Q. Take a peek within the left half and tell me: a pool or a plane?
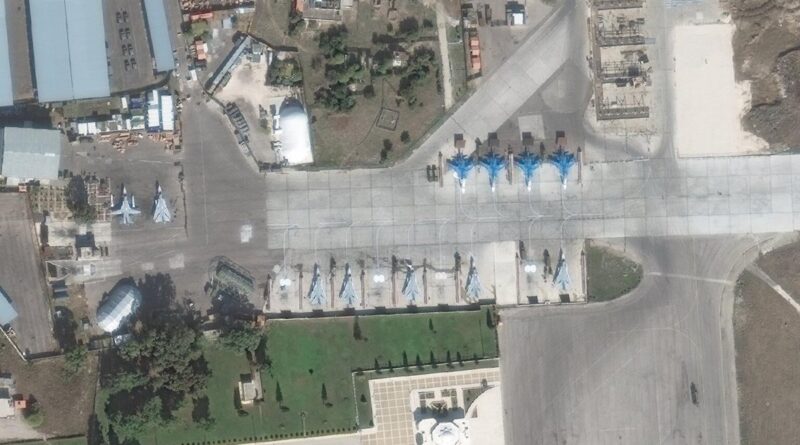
plane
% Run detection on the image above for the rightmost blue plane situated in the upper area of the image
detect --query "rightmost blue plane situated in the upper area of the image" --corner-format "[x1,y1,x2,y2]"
[550,147,576,189]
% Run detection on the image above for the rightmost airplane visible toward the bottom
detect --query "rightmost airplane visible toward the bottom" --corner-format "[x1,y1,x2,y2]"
[556,253,573,290]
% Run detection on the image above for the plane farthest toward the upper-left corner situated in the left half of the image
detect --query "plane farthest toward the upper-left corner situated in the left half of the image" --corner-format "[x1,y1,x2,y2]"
[112,184,140,223]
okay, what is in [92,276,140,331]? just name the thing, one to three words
hangar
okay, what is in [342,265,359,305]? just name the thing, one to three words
airplane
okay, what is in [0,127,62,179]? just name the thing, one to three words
hangar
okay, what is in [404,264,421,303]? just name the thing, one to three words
airplane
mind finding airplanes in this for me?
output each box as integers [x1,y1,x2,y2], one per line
[515,148,541,190]
[550,147,576,189]
[468,262,485,301]
[448,151,474,193]
[155,184,172,223]
[342,265,359,305]
[479,150,505,191]
[556,253,573,290]
[112,184,140,223]
[311,264,329,304]
[404,264,421,303]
